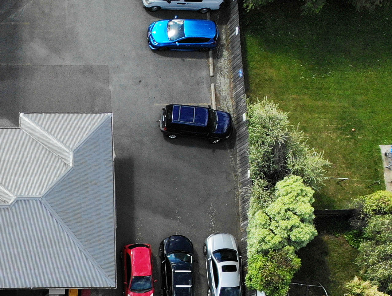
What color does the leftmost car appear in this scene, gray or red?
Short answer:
red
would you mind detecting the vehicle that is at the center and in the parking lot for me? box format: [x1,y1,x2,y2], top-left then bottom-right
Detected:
[163,101,237,141]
